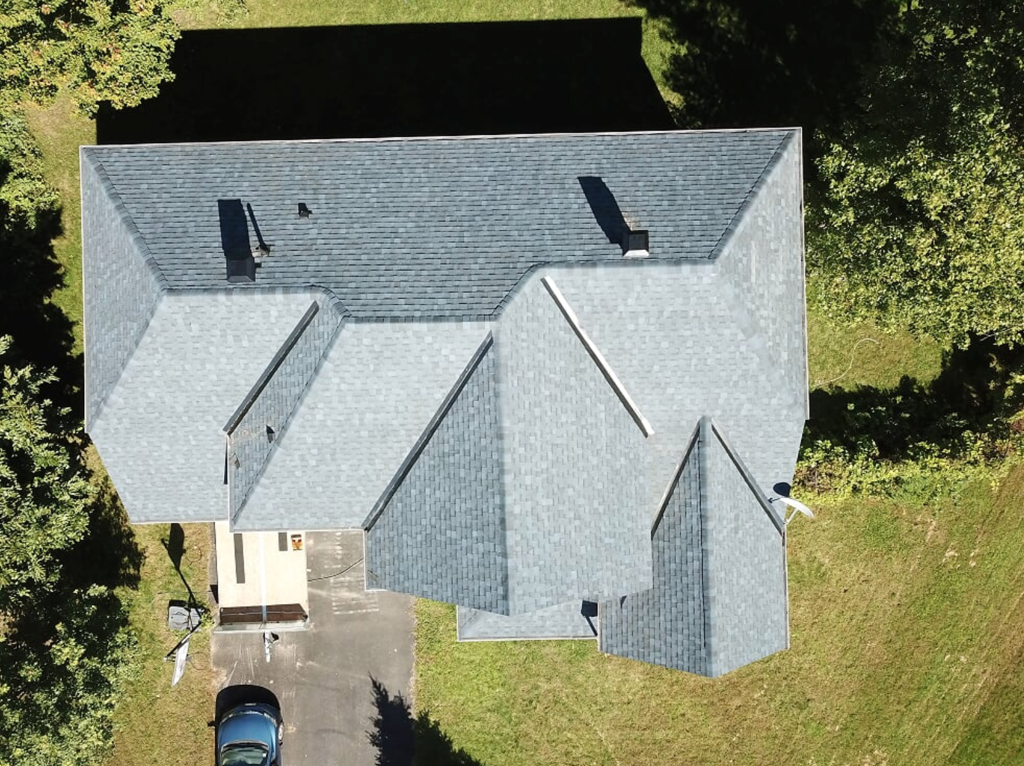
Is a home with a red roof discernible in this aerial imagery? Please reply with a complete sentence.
No, there is no home with a red roof in the image.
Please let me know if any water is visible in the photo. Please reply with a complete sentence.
No, the scene doesn't show any water.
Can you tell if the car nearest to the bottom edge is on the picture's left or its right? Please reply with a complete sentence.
You can find the car nearest to the bottom edge on the left side of the picture.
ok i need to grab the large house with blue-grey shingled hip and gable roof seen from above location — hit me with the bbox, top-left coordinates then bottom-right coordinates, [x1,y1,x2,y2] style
[78,126,812,678]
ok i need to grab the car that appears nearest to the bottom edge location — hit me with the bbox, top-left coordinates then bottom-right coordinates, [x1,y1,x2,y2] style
[213,699,289,766]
